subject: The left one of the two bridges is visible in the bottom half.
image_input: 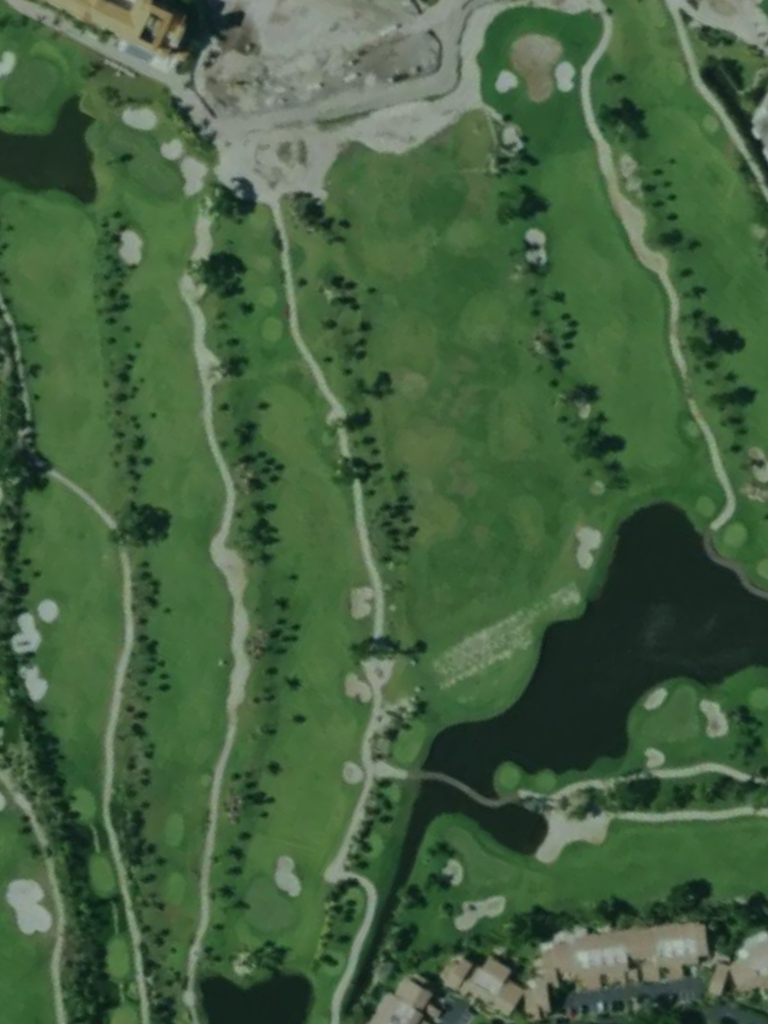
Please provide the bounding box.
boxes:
[408,772,519,806]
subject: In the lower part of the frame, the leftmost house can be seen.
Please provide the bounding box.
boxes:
[368,975,443,1024]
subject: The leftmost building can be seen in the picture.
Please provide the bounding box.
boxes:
[49,0,187,61]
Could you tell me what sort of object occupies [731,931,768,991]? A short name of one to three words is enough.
house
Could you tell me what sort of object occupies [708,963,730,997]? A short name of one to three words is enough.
building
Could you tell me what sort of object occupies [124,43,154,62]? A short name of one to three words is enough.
swimming pool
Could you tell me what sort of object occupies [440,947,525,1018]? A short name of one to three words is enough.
house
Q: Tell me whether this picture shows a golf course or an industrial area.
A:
golf course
